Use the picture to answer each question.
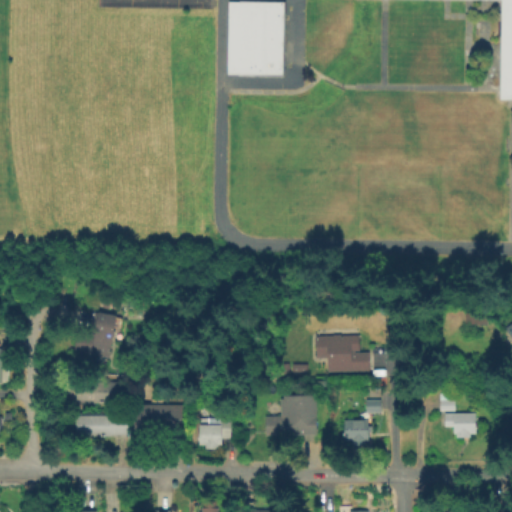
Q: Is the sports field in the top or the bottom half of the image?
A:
top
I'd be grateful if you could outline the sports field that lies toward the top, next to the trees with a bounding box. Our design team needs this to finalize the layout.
[228,91,509,240]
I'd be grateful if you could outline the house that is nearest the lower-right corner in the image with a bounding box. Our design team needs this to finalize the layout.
[445,413,477,440]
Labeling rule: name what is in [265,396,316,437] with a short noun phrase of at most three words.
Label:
house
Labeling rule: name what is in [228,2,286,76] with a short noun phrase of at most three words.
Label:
building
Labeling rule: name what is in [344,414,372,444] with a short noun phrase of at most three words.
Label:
house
